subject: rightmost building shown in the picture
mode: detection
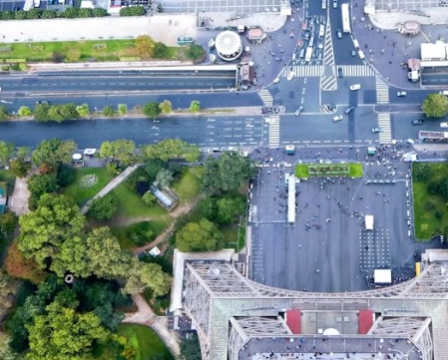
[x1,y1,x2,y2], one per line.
[421,40,448,60]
